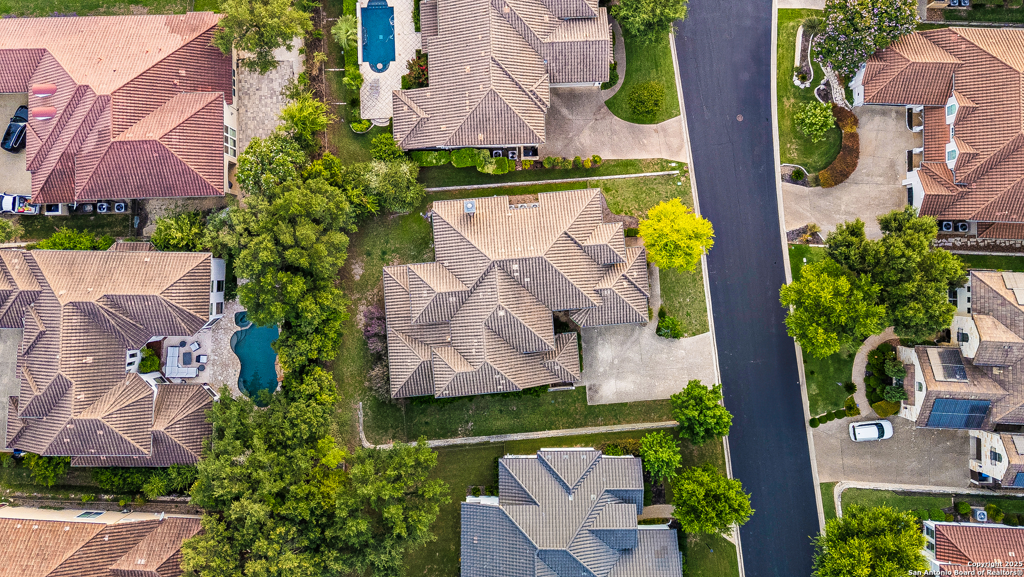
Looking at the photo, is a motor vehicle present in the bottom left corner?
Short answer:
No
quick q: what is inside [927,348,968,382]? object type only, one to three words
solar panel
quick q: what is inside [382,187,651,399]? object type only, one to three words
house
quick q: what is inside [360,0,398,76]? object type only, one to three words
swimming pool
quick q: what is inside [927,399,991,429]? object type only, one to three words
solar panel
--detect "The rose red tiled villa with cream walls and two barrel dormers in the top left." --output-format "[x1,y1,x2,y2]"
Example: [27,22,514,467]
[0,11,240,205]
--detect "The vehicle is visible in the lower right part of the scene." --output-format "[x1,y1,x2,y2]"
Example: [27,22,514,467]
[845,419,893,442]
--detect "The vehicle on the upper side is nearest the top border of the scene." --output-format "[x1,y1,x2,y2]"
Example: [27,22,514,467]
[0,104,27,155]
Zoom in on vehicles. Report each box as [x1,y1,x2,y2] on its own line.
[0,194,39,216]
[845,419,893,442]
[0,104,27,155]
